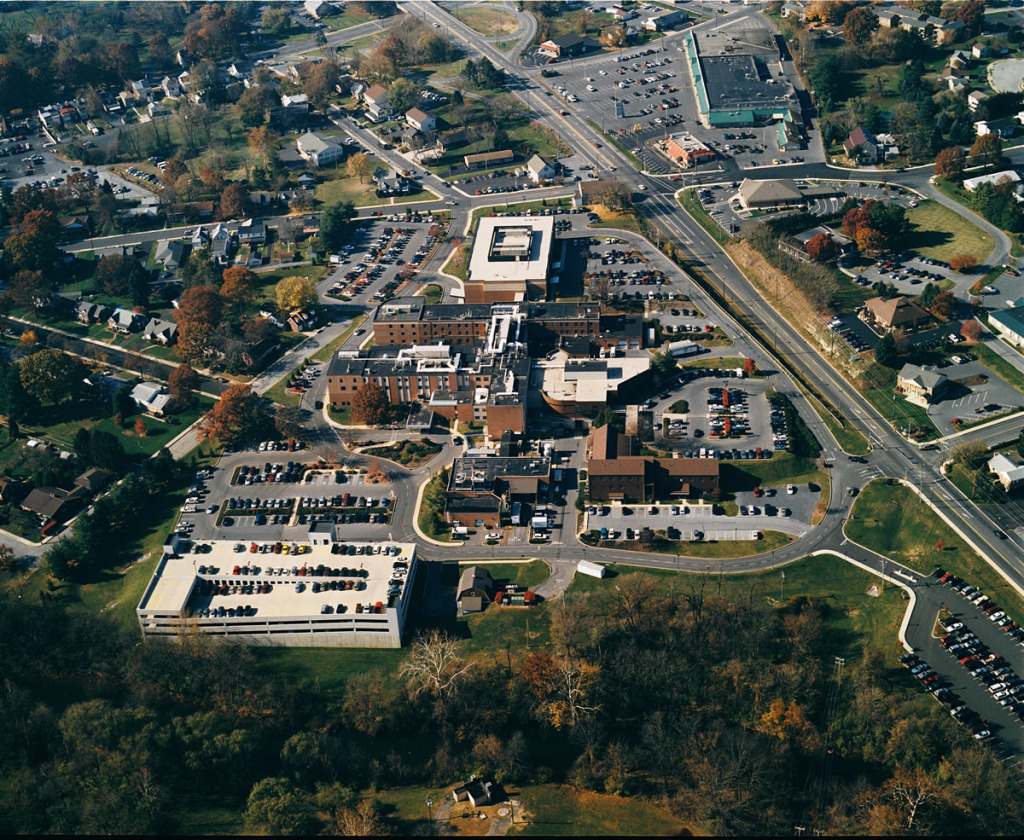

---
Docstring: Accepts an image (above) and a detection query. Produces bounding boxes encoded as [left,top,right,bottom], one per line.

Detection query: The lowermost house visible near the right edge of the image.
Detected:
[982,457,1024,497]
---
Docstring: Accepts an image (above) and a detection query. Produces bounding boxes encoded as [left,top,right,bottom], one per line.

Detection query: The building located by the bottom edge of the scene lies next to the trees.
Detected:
[452,774,491,808]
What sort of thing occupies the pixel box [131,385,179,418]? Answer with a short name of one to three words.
house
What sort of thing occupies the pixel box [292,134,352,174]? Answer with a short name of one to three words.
building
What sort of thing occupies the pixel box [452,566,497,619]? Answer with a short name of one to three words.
barn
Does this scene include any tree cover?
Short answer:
Yes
